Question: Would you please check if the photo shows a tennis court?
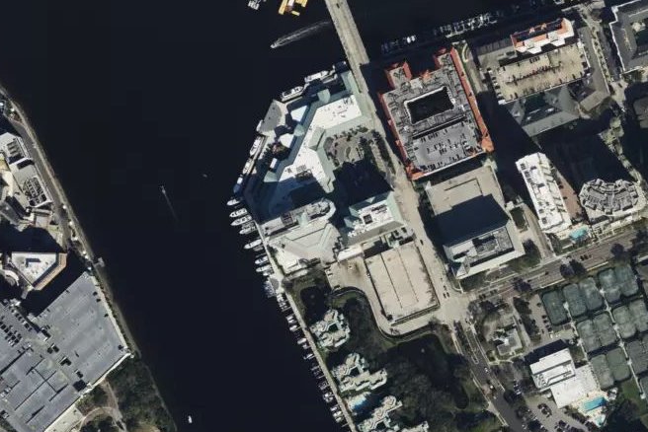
Yes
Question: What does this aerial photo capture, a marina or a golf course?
marina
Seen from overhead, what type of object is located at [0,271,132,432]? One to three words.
building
